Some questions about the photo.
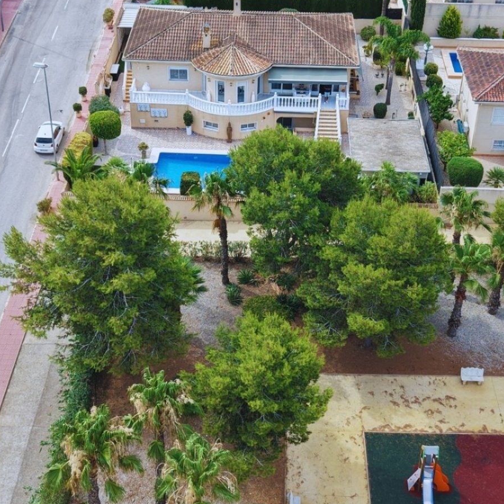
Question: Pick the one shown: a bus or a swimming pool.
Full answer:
Looking from above, you can make out a swimming pool.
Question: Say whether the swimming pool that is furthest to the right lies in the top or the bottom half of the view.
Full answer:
The swimming pool that is furthest to the right is in the top half of the image.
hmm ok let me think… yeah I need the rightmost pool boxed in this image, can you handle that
[442,45,472,76]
